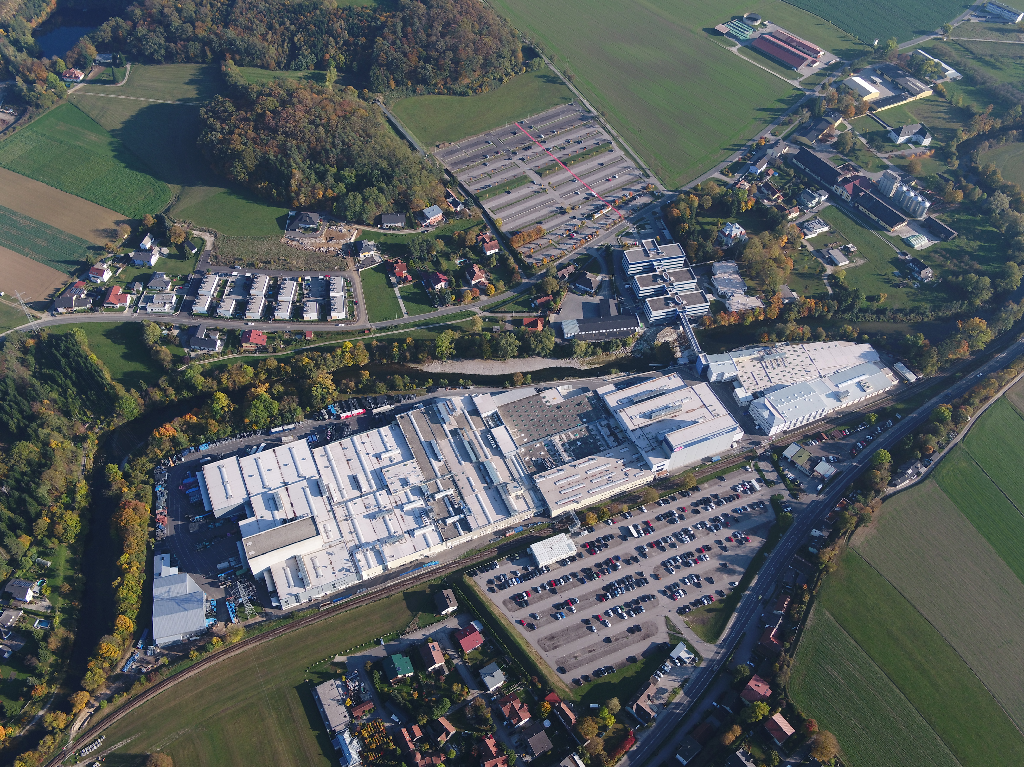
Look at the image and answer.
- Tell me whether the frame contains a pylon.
Yes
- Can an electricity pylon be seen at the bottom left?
Yes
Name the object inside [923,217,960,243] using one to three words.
shed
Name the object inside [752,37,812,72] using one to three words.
barn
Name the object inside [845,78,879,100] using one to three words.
building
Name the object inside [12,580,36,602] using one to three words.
house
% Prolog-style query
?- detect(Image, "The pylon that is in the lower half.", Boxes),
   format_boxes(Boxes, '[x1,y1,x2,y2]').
[227,580,261,622]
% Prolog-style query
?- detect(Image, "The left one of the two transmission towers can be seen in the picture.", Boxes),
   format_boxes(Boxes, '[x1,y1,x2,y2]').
[11,290,37,331]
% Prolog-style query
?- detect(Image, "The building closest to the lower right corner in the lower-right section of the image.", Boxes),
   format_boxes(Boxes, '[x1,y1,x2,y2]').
[764,713,795,745]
